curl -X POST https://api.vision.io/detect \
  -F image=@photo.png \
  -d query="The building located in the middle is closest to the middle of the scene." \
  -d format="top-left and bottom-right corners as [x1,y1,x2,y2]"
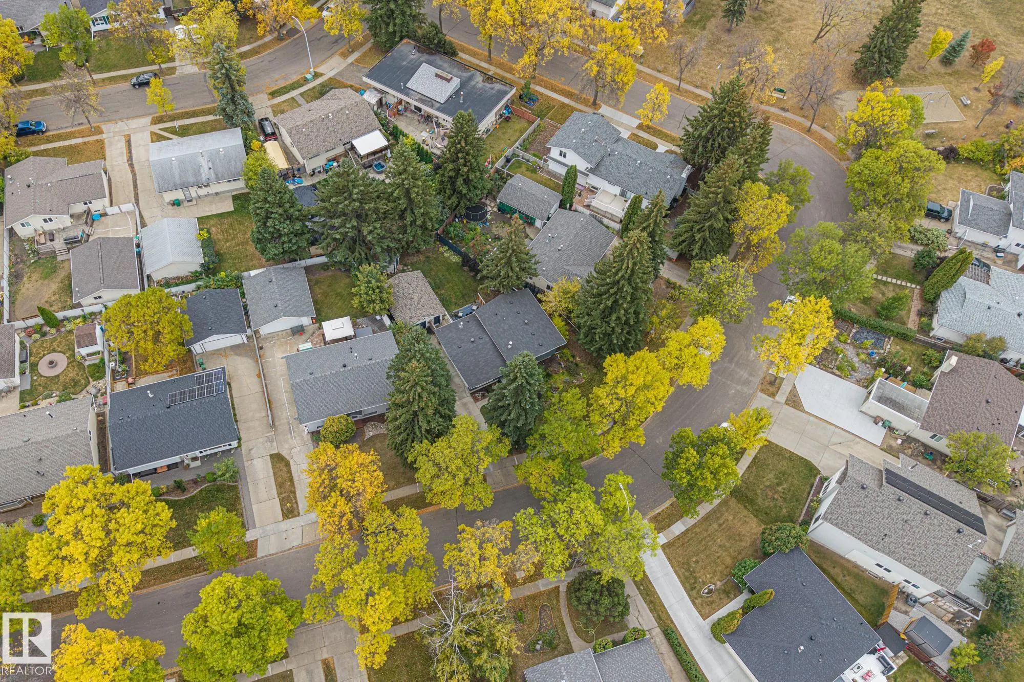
[434,288,567,397]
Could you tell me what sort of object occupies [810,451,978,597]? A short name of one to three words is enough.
house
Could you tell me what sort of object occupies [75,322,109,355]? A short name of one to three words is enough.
shed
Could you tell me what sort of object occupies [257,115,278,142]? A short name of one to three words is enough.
truck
